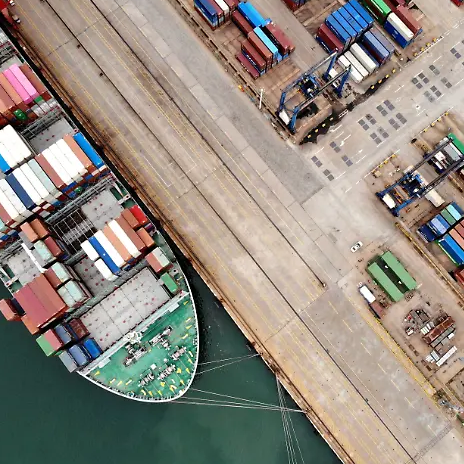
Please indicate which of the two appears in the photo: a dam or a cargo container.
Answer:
cargo container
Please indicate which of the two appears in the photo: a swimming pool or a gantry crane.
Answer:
gantry crane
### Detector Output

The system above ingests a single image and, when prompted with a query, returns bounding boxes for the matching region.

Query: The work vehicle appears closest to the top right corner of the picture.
[409,139,428,155]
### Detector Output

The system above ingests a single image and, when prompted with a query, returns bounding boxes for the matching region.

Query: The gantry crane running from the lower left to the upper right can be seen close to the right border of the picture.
[376,138,464,217]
